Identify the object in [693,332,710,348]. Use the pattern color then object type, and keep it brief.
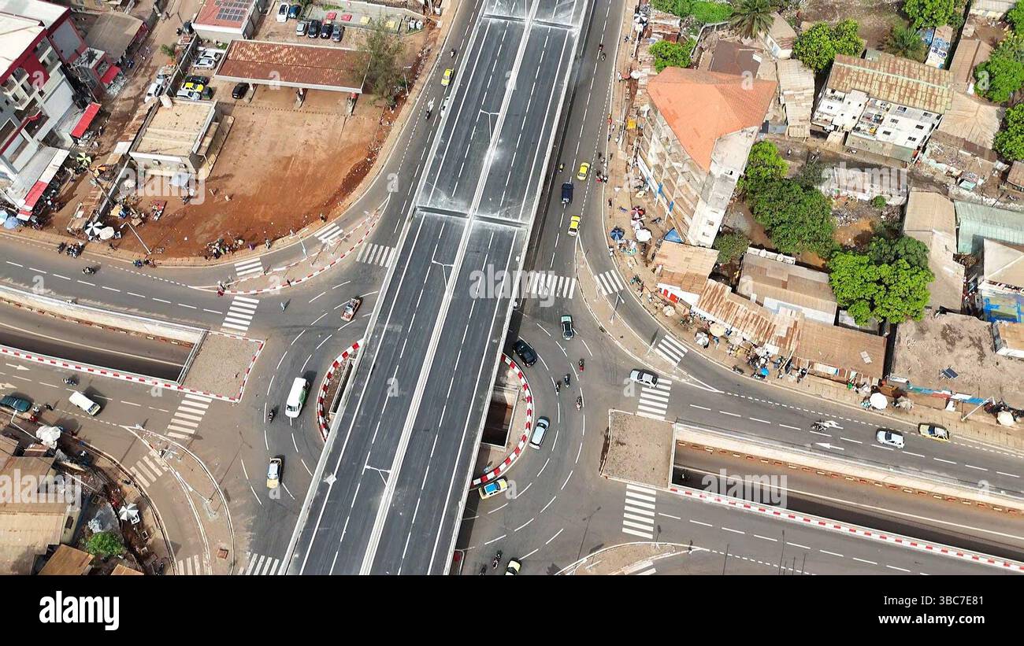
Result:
white umbrella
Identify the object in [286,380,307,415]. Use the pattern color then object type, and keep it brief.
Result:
white vehicle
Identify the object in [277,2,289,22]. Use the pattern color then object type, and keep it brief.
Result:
white vehicle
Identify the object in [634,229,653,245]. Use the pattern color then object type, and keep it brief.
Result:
white umbrella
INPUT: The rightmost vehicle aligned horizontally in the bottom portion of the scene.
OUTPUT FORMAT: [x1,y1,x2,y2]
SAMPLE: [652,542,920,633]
[918,424,948,440]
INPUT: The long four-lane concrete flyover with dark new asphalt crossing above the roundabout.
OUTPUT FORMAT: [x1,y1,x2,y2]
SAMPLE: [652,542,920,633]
[253,0,593,646]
